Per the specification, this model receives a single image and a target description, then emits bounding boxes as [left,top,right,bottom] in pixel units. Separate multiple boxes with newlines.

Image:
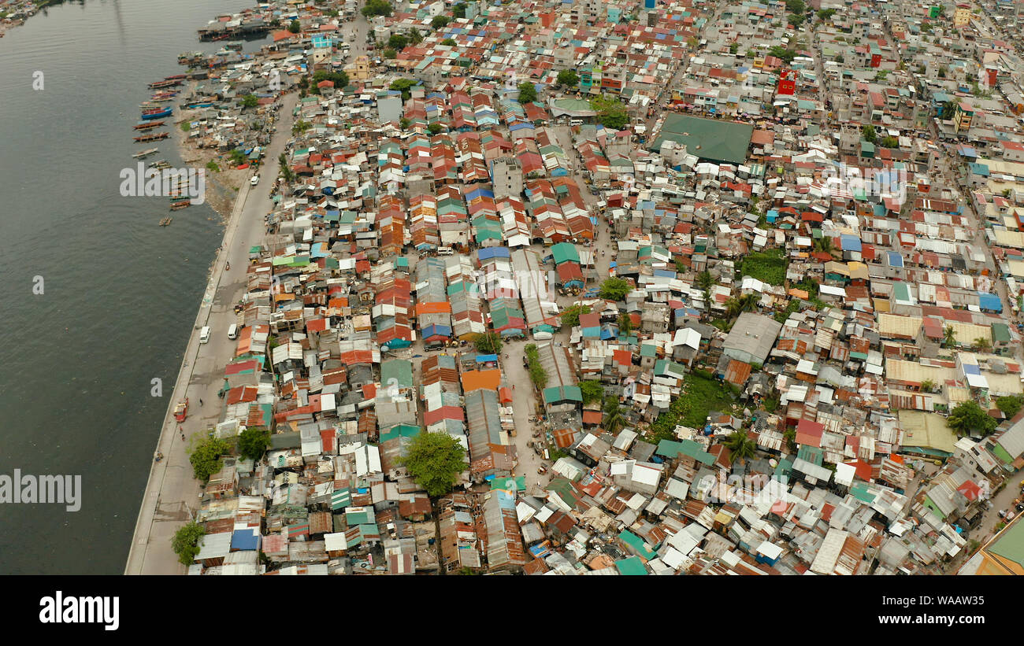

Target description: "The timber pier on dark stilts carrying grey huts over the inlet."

[197,17,268,43]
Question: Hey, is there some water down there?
Yes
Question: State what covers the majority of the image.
buildings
